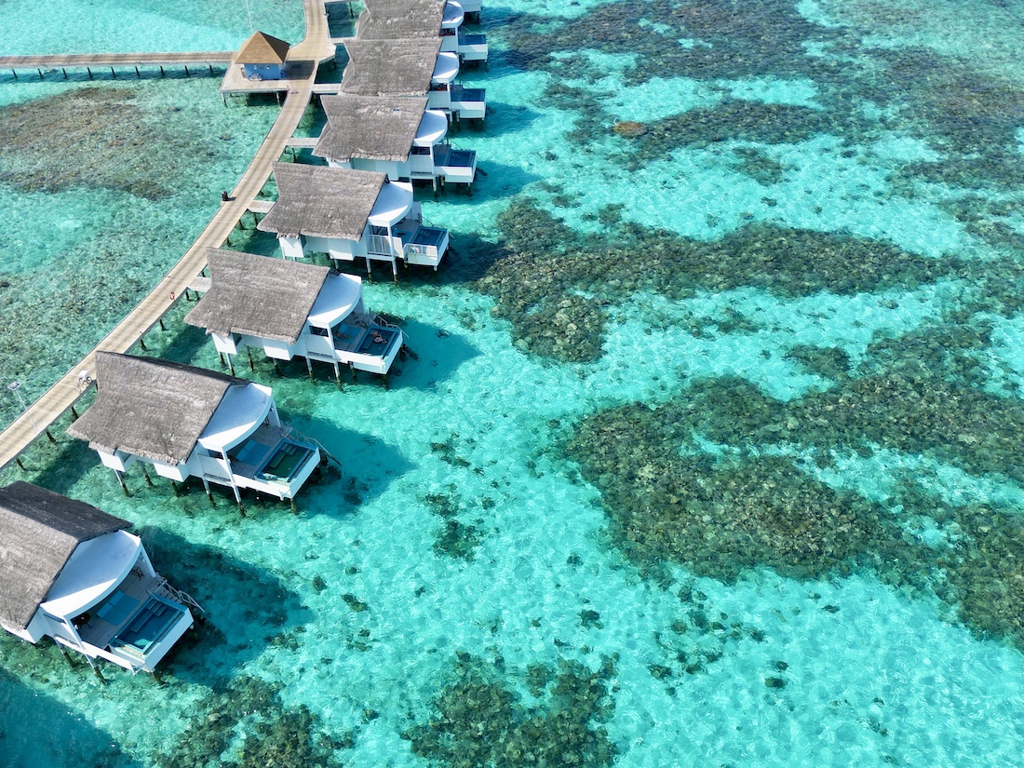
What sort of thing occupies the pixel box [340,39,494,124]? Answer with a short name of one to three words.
house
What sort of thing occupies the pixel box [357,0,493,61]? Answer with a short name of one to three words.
house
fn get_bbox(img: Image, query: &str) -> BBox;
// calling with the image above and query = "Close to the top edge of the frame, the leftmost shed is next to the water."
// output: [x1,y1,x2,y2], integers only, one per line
[236,32,292,79]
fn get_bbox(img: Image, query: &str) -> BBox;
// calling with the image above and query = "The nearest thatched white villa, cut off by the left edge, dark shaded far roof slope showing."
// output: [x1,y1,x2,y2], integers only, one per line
[0,476,216,677]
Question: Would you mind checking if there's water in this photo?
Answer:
Yes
